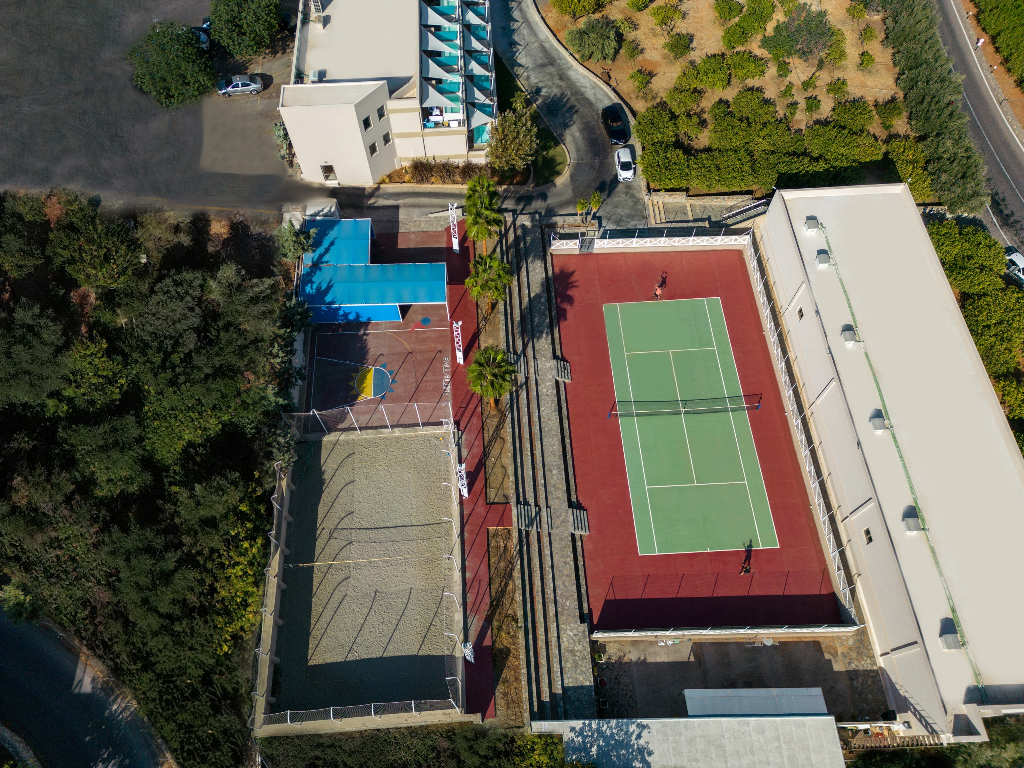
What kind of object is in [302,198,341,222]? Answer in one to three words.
shed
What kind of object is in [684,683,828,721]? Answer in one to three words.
shed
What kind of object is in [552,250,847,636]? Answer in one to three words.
tennis court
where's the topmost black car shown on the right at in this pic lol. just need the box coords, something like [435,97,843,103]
[604,108,628,145]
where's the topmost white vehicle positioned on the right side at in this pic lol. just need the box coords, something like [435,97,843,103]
[615,149,636,181]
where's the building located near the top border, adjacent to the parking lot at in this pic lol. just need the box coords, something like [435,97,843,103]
[278,0,498,186]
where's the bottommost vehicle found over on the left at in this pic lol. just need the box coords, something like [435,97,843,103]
[217,73,263,99]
